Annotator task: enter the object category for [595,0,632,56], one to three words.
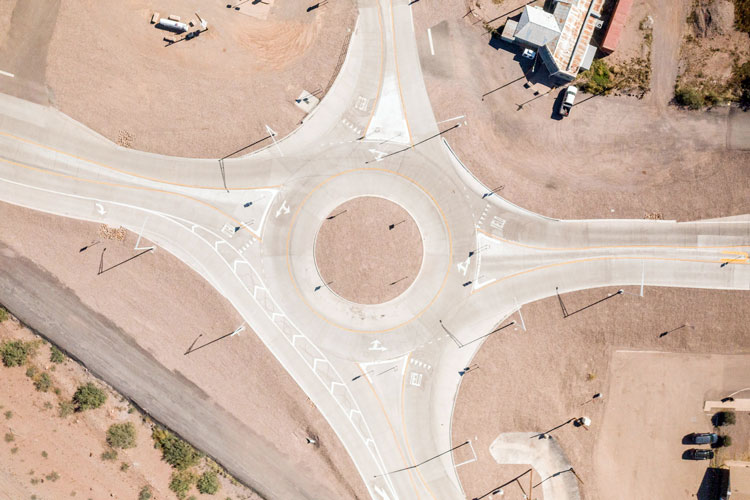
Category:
shed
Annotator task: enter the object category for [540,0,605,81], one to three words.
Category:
building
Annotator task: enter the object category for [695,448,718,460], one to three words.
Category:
vehicle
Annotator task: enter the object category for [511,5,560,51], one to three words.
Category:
house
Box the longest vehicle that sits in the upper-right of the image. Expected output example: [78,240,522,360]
[560,86,577,116]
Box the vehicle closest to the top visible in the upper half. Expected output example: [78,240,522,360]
[520,49,535,61]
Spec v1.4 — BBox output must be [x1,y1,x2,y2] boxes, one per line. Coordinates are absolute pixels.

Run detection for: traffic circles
[258,139,479,361]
